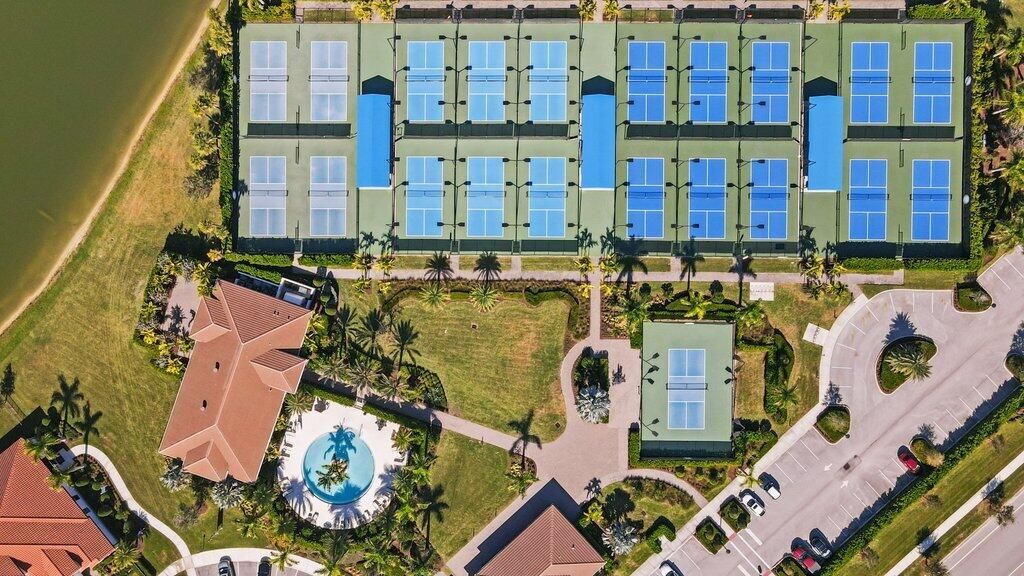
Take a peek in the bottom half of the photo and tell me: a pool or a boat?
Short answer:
pool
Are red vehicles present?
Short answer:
Yes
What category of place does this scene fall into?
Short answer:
sports ground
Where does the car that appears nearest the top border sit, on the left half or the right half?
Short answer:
right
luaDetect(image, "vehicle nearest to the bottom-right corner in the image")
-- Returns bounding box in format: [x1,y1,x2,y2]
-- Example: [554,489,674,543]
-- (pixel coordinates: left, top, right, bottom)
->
[895,448,922,475]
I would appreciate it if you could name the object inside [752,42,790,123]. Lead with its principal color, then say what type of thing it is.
blue sports court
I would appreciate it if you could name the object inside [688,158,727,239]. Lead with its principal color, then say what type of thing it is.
blue sports court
